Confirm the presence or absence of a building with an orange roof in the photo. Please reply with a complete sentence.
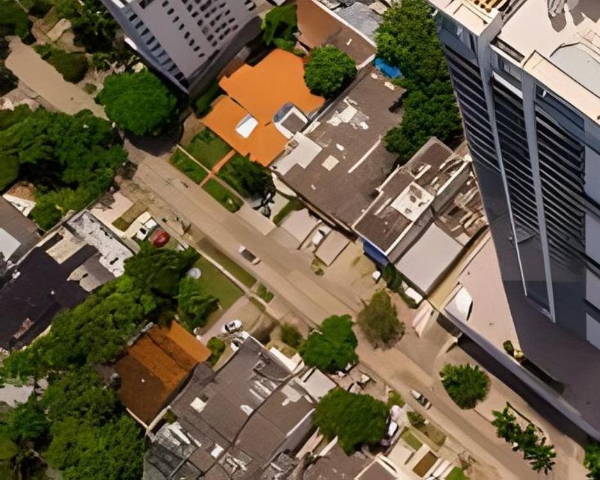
Yes, there's a building with an orange roof down there.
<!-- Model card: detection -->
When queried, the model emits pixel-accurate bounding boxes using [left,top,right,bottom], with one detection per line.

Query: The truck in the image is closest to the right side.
[407,385,435,415]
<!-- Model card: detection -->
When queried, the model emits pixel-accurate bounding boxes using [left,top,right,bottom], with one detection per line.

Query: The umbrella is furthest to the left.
[188,267,202,280]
